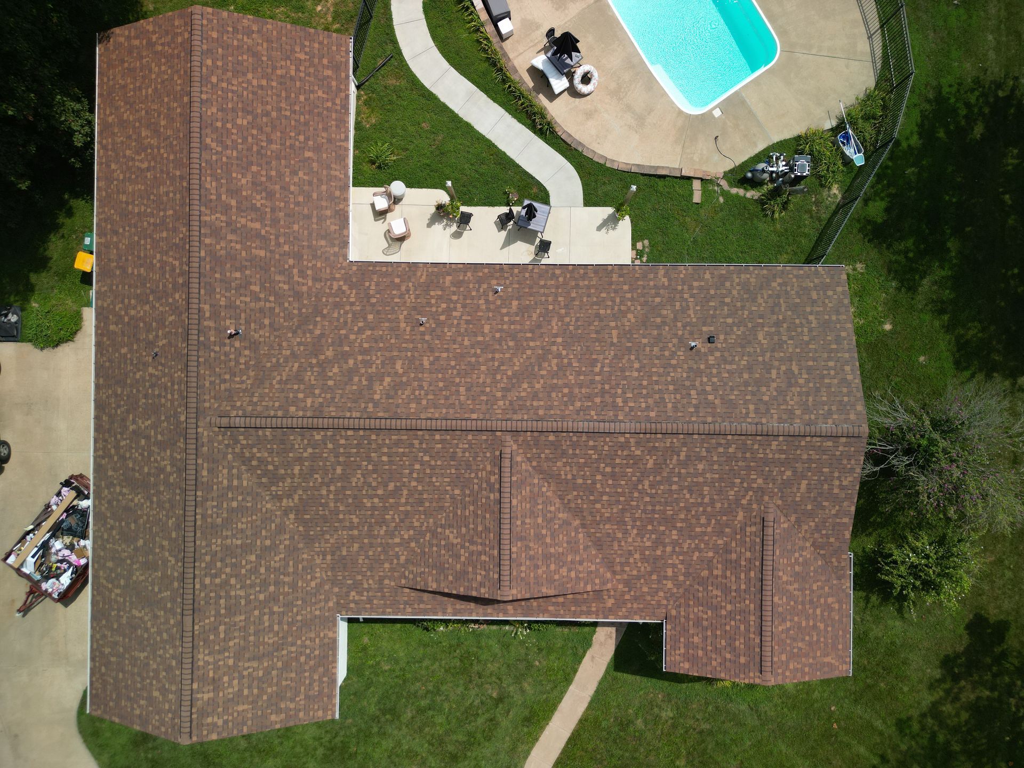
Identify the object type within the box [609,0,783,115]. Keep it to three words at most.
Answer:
swimming pool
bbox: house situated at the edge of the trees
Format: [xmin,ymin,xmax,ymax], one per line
[88,6,869,744]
